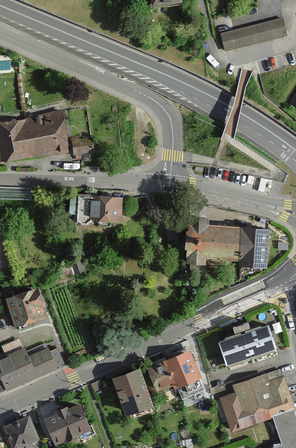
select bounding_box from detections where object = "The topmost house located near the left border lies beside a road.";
[0,110,69,164]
